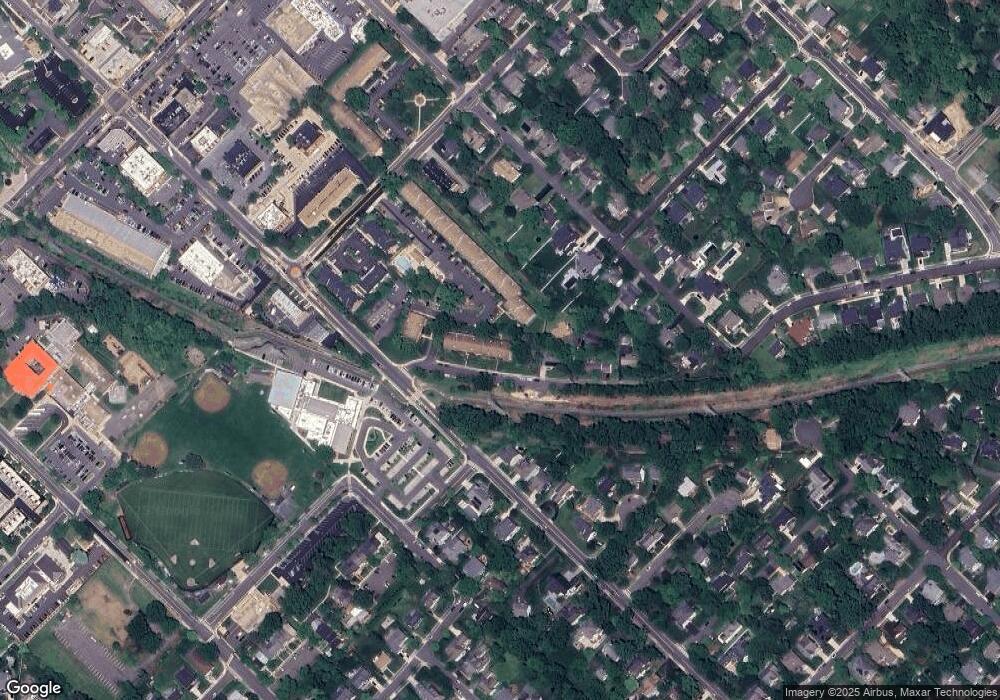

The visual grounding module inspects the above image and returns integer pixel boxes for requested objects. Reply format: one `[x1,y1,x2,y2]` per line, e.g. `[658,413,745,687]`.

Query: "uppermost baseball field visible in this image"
[194,367,229,412]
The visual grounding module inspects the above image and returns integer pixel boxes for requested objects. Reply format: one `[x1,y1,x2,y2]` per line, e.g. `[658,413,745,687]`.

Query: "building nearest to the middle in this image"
[443,333,513,361]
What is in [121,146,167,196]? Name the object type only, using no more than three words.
building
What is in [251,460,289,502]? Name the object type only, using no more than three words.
baseball field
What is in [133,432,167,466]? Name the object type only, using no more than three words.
baseball field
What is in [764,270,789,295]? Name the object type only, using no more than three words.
house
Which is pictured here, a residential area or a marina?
residential area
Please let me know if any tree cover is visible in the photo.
Yes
